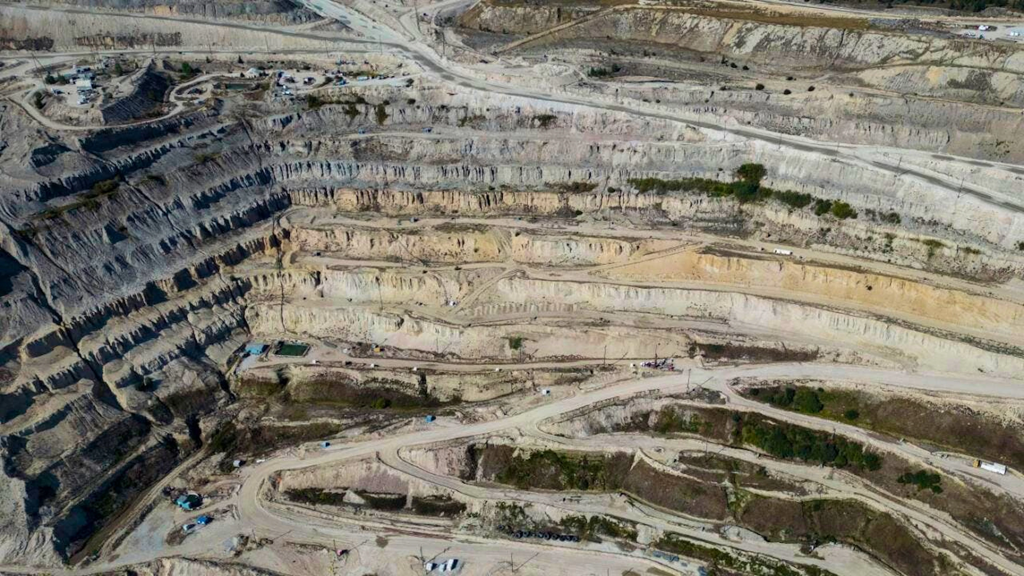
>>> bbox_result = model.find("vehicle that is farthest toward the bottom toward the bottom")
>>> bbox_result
[973,460,1010,481]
